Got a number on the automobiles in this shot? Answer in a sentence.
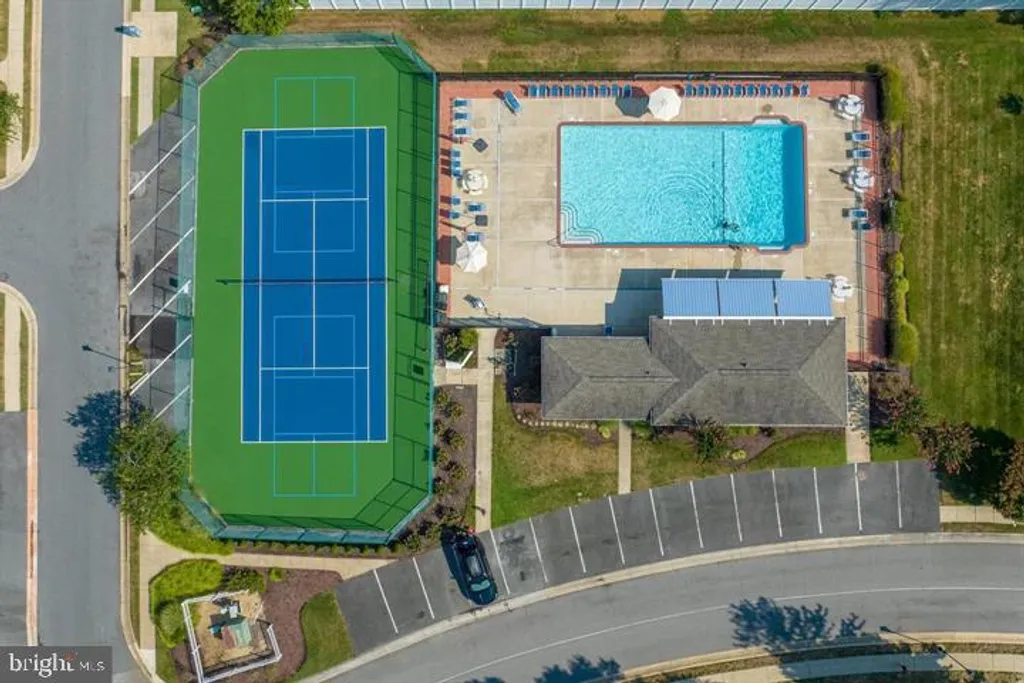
There is 1 automobile in the image.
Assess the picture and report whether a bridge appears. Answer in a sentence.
No, no bridge can be seen from above.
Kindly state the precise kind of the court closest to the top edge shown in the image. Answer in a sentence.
From above, the court closest to the top edge can be identified as a tennis court.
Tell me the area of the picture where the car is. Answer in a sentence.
You can find the car in the bottom area of the picture.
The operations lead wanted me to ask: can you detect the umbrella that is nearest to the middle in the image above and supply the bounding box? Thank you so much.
[455,240,488,273]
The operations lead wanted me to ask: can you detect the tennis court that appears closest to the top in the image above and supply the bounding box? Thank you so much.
[190,45,439,534]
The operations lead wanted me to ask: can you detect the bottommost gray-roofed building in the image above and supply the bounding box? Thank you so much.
[540,316,847,427]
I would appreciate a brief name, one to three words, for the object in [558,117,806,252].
swimming pool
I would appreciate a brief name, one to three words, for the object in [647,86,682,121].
umbrella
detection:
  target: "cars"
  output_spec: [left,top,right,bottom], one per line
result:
[449,530,491,609]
